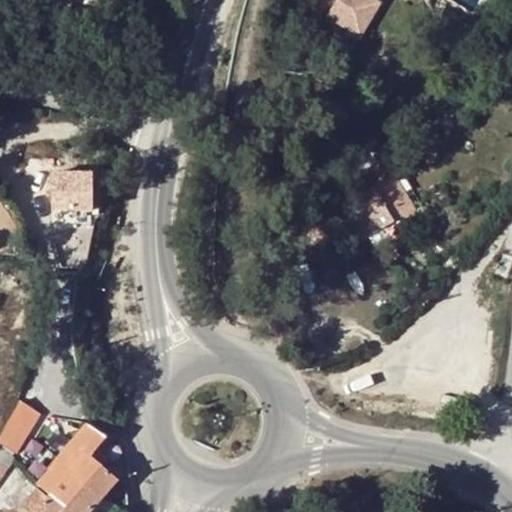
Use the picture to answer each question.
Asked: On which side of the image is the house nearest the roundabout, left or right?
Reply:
left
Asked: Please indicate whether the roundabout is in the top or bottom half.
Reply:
bottom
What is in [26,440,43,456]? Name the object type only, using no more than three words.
umbrella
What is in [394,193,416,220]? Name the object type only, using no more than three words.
house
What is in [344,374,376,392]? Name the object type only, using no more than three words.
vehicle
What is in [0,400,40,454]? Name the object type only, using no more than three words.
shed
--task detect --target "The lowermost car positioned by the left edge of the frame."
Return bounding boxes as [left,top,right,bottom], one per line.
[26,384,46,399]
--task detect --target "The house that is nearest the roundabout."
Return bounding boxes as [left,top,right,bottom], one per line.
[36,422,118,512]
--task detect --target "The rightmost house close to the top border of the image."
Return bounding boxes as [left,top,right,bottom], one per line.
[325,0,382,34]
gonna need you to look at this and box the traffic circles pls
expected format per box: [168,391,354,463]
[134,336,304,506]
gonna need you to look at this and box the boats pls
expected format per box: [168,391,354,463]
[348,271,362,295]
